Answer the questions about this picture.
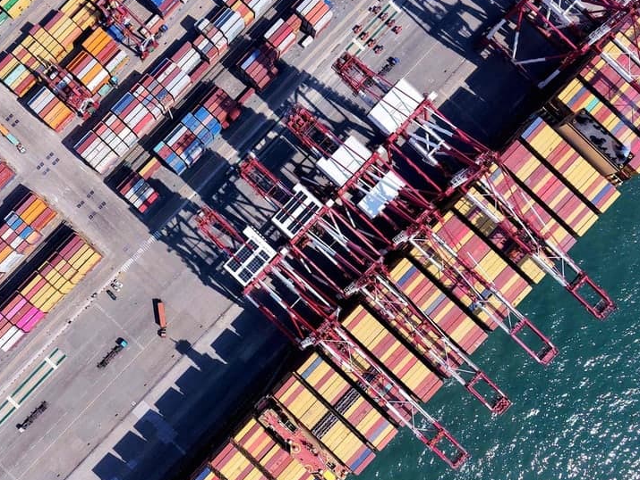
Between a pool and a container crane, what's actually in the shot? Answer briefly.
container crane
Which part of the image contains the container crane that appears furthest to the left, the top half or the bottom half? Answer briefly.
top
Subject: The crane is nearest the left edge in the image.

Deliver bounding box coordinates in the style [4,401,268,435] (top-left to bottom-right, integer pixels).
[34,56,107,132]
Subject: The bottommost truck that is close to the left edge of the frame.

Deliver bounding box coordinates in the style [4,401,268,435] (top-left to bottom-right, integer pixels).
[18,403,44,430]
